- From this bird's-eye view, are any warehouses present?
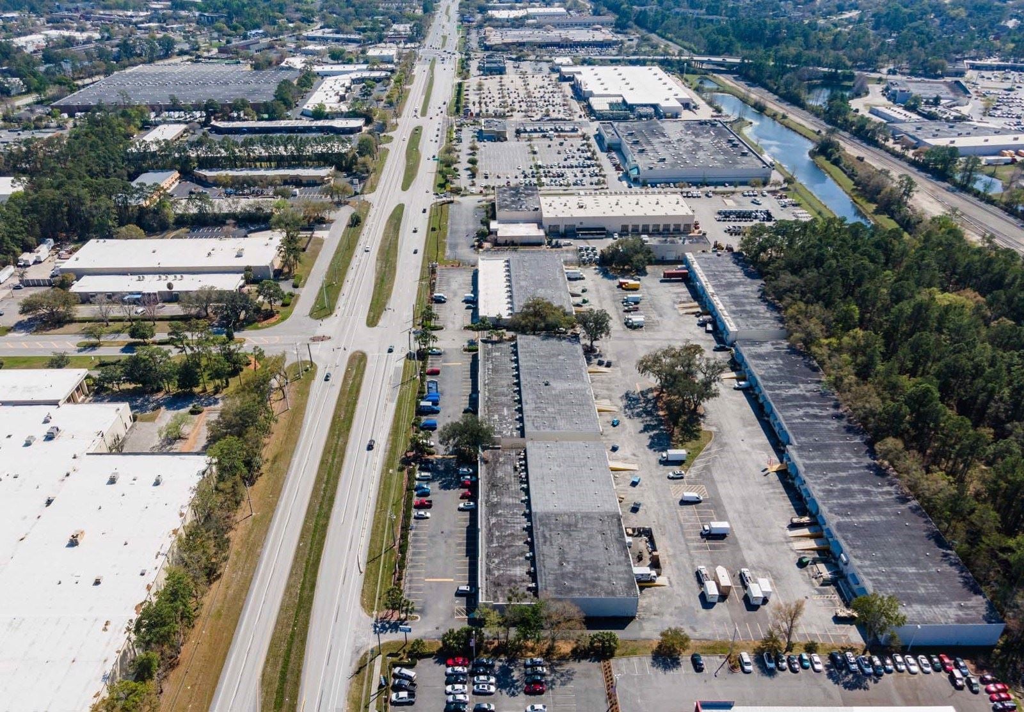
Yes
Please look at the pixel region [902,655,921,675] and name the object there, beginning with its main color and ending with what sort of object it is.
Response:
white car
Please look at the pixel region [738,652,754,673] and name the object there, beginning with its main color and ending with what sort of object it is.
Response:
white car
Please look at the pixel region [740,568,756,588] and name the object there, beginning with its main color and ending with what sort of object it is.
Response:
white vehicle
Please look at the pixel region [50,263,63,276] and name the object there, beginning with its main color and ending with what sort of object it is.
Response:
white vehicle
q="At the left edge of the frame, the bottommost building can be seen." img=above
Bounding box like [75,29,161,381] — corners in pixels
[0,368,215,712]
